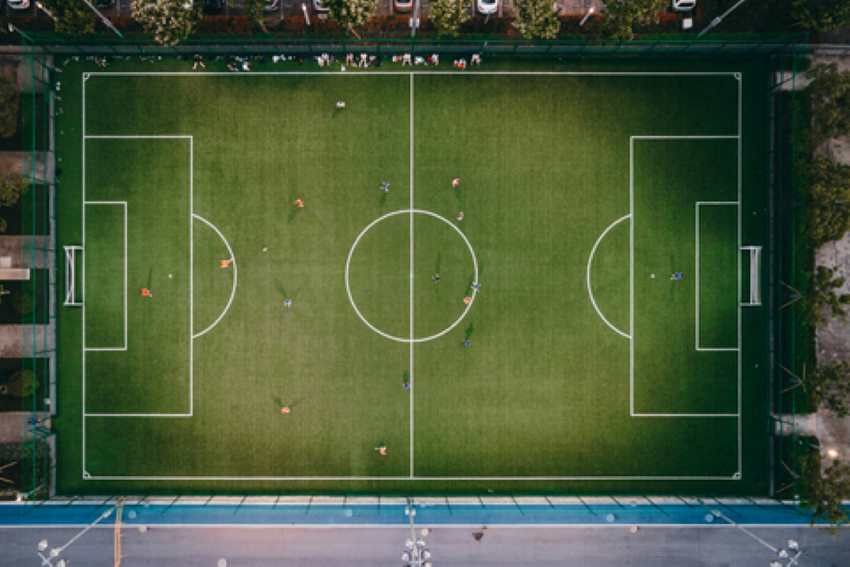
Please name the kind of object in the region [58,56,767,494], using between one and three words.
soccer field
